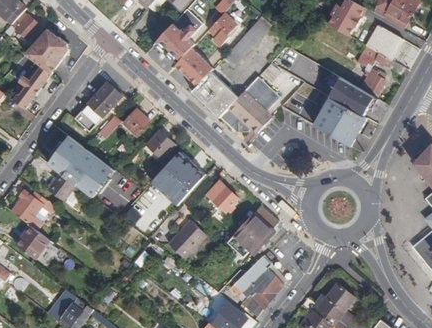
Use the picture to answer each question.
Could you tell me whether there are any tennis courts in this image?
No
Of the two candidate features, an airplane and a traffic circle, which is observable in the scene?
traffic circle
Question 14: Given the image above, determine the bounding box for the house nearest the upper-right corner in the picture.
[376,0,422,30]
